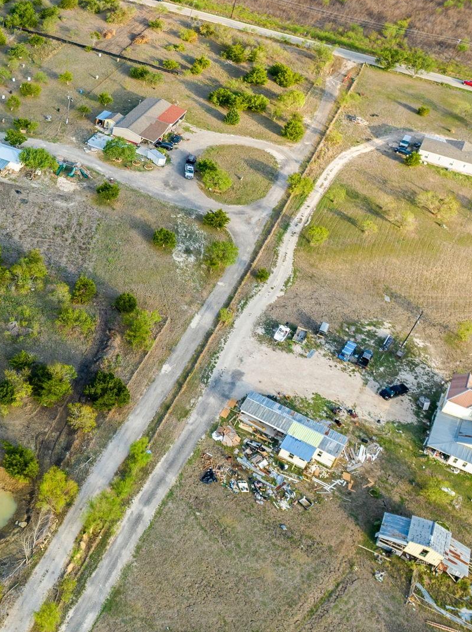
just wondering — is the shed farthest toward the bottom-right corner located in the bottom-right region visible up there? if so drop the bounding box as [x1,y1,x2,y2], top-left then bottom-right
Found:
[378,512,471,581]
